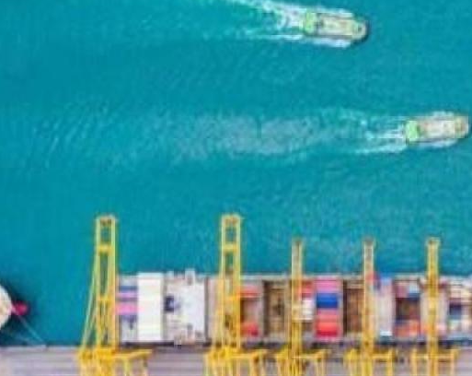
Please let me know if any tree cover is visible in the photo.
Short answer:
No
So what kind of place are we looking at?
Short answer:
port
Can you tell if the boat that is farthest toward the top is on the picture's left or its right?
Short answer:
right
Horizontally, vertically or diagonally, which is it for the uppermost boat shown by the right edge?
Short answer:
horizontally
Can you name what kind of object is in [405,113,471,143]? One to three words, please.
boat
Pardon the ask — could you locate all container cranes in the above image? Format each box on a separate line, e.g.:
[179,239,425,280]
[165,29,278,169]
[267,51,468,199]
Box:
[78,216,155,376]
[206,216,271,376]
[348,239,396,376]
[409,239,457,376]
[275,239,329,376]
